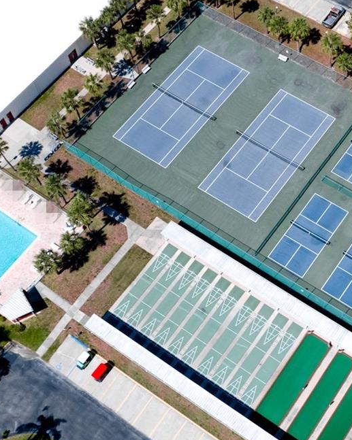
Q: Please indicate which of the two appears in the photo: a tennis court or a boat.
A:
tennis court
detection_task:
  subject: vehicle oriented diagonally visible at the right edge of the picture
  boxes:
[319,4,345,28]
